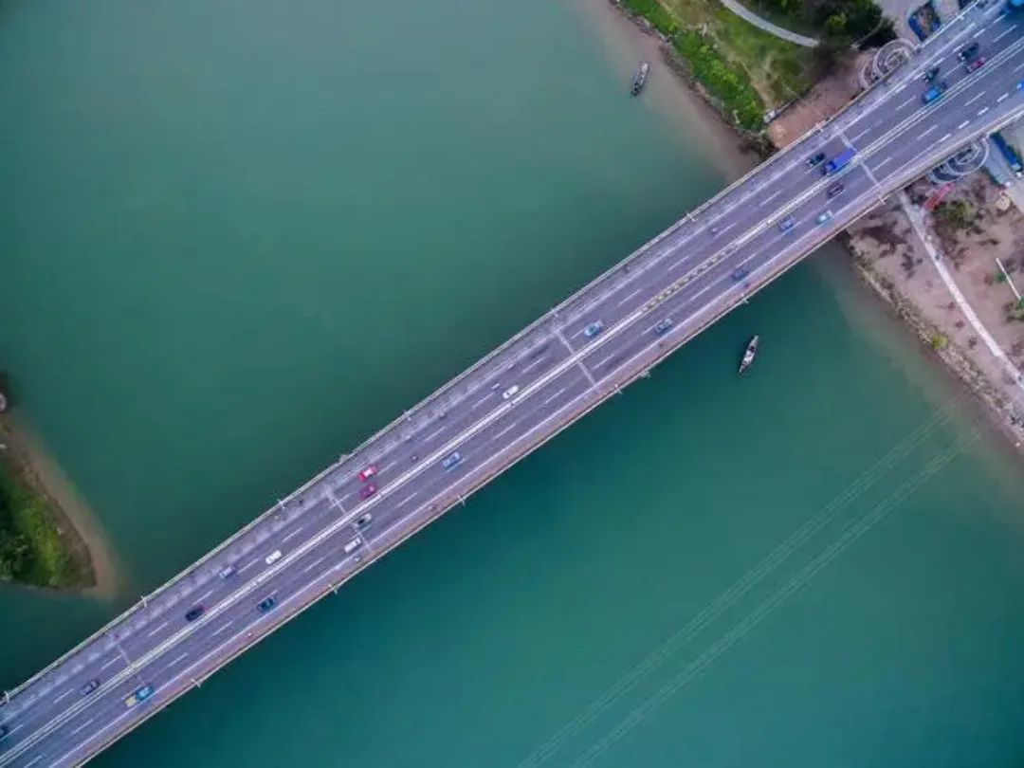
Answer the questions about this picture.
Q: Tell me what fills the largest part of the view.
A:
water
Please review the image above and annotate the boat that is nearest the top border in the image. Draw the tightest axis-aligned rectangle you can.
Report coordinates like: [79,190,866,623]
[633,61,650,97]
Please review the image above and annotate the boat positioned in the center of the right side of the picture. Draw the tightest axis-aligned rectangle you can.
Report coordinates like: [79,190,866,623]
[737,333,759,375]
